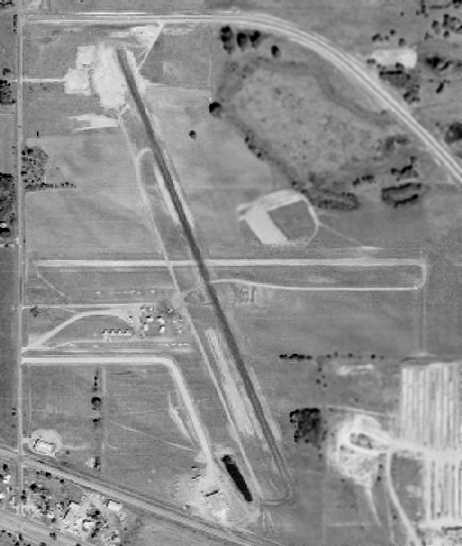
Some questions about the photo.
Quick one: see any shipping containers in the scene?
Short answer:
No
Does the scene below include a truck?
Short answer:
No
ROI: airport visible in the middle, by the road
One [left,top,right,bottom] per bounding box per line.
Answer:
[22,47,427,505]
